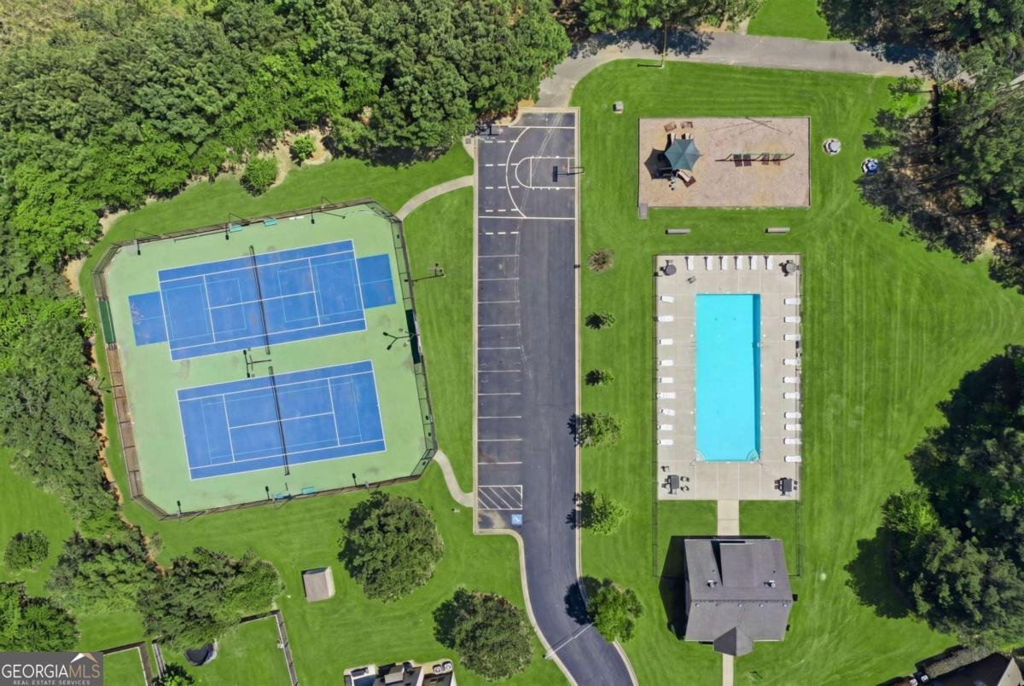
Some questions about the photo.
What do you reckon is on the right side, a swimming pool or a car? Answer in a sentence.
Looking on the right side, you will find a swimming pool.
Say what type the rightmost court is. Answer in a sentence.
I'd say the rightmost court is a basketball court.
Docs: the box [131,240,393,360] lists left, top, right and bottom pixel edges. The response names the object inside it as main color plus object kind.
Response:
blue tennis court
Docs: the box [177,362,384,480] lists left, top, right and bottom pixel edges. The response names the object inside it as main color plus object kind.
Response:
blue tennis court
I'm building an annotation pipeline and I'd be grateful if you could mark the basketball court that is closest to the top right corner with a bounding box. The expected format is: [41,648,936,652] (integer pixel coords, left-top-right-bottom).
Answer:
[478,113,575,218]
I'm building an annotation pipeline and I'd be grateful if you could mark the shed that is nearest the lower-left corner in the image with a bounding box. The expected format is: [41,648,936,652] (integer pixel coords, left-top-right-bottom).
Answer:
[299,568,331,602]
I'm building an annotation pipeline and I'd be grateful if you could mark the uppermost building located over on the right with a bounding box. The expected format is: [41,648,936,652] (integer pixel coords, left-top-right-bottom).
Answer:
[682,537,795,659]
